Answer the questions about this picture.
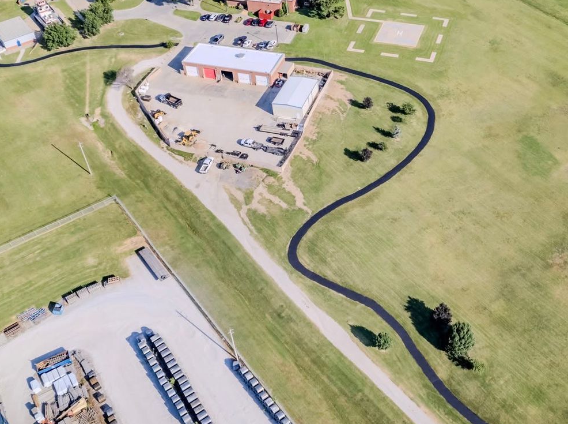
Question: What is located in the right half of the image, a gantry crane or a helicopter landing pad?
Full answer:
It is a helicopter landing pad that can be seen in the right half of the image.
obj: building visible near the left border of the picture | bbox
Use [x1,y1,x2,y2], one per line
[0,18,38,53]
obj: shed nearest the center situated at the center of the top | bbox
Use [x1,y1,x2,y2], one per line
[272,76,319,122]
